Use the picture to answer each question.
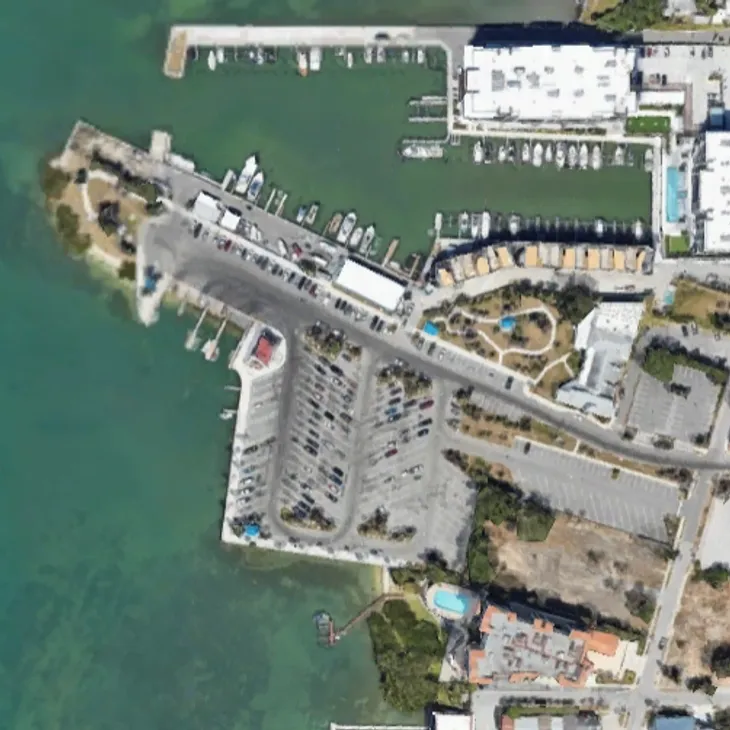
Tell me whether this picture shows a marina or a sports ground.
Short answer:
marina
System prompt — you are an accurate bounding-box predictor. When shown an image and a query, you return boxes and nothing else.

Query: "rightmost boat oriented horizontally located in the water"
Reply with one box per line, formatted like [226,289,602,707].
[402,145,446,158]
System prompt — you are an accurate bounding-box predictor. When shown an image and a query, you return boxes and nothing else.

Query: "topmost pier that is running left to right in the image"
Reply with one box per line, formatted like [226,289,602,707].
[164,25,447,79]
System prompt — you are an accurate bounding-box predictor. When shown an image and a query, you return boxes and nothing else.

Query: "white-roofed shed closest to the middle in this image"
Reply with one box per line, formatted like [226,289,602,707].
[336,259,405,311]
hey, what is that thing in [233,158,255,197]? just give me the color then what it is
white boat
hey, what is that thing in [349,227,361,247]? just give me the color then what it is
white boat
